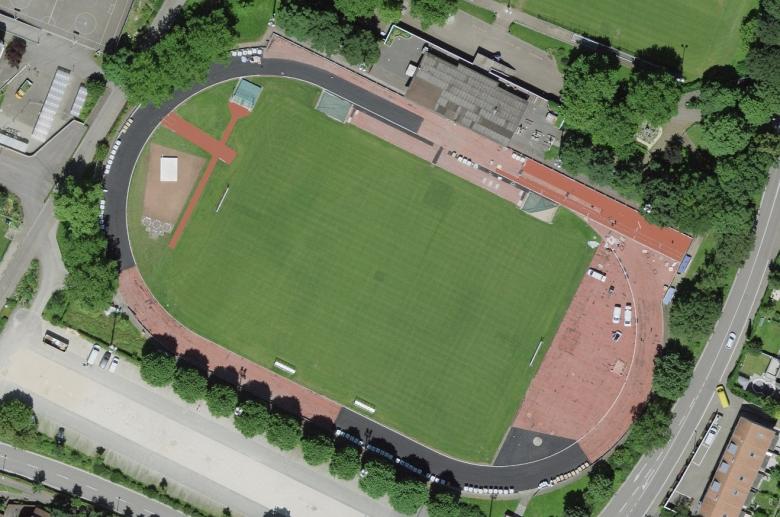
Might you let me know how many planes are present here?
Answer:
0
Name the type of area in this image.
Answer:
sports ground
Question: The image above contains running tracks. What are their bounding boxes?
[104,34,690,492]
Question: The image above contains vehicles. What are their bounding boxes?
[717,385,730,410]
[623,305,632,326]
[587,269,608,283]
[109,356,119,374]
[86,345,98,367]
[702,428,717,447]
[99,351,110,369]
[726,332,736,349]
[612,330,622,343]
[612,305,622,324]
[17,79,32,97]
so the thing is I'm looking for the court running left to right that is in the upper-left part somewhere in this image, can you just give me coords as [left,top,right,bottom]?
[0,0,133,55]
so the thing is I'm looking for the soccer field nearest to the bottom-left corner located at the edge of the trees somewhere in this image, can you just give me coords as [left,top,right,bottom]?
[126,76,603,465]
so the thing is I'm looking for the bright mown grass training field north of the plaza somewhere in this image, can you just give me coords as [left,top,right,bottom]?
[504,0,762,80]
